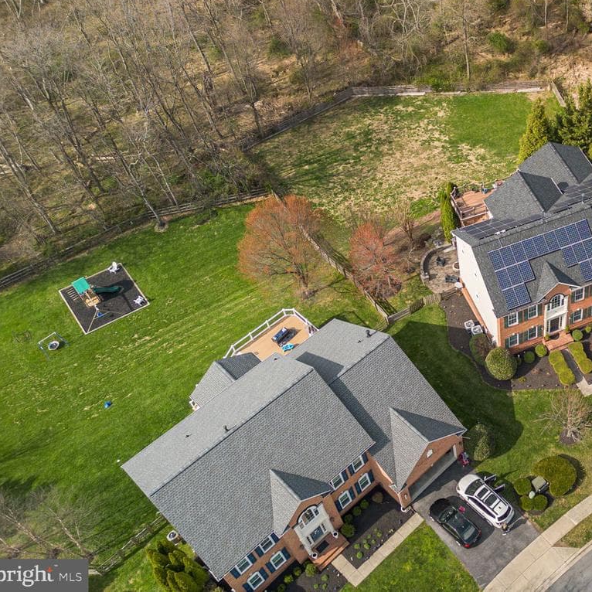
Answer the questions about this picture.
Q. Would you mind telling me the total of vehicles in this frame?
2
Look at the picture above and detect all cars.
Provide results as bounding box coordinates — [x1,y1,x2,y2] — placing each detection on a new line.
[453,473,514,530]
[423,495,483,555]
